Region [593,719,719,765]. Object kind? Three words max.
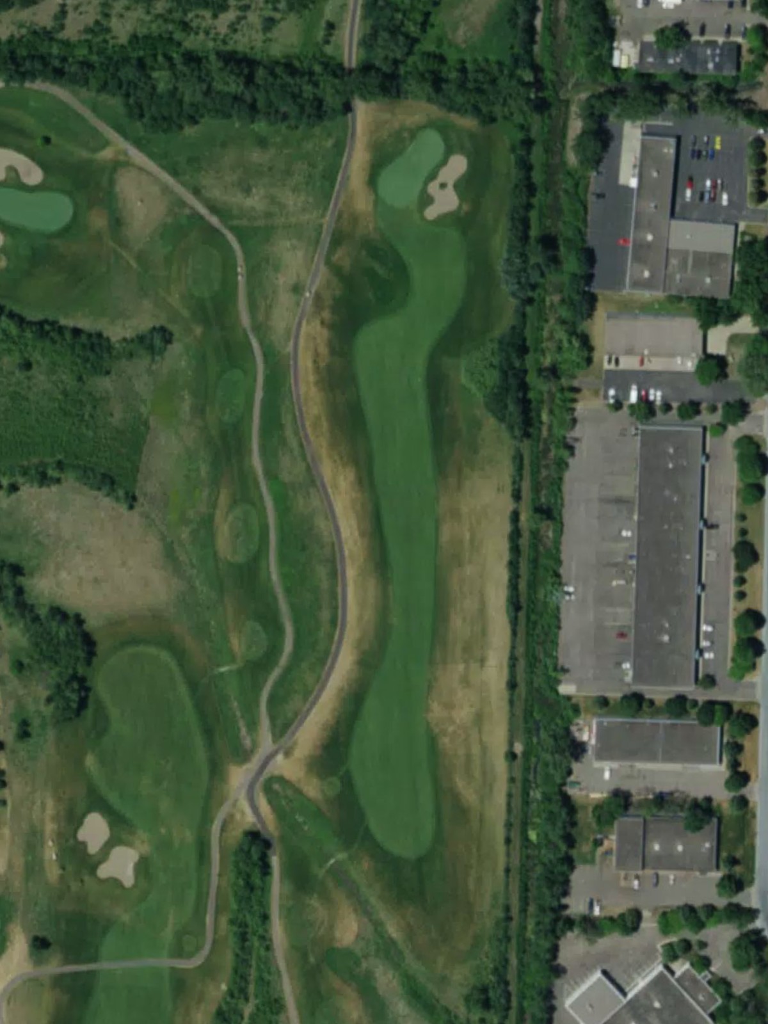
building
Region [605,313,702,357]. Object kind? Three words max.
building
